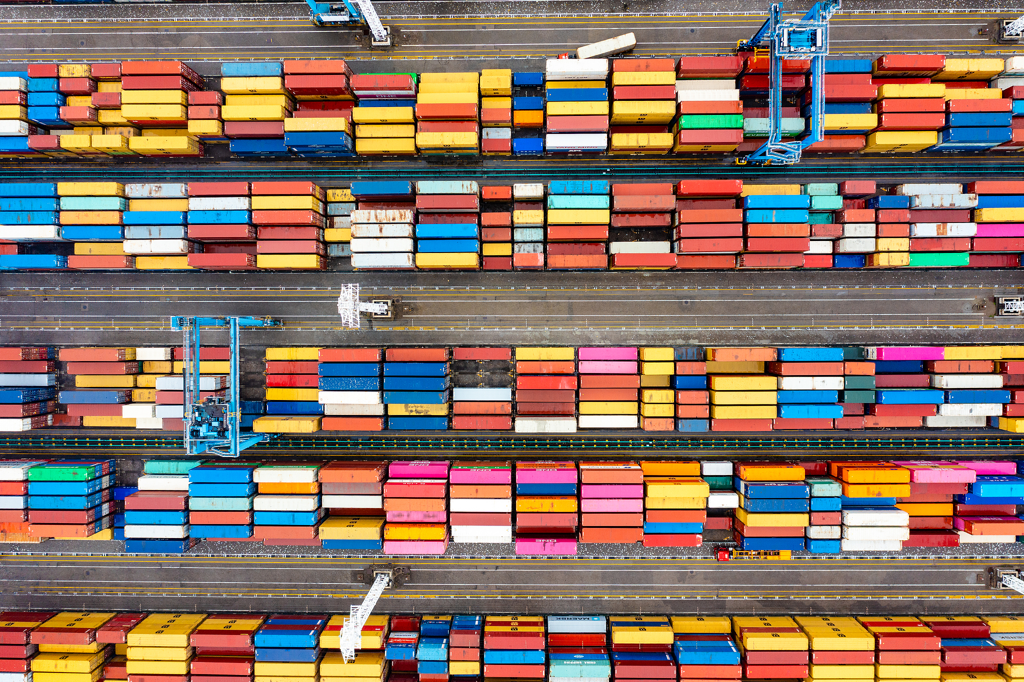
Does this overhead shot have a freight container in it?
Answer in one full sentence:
Yes, a freight container is visible in the scene.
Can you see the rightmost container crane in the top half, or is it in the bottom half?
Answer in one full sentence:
The rightmost container crane is in the top half of the image.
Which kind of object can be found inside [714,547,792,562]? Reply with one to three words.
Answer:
vehicle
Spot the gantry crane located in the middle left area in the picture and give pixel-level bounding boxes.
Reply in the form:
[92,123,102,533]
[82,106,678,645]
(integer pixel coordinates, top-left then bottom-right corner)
[169,319,281,461]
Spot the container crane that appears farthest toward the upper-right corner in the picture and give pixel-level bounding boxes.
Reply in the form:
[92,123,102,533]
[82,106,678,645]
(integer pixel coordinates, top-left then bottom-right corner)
[735,0,834,168]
